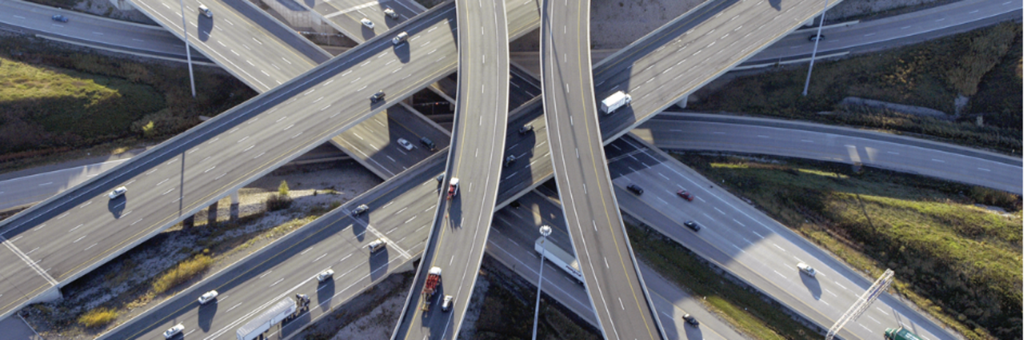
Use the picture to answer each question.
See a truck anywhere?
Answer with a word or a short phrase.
Yes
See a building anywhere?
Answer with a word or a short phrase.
No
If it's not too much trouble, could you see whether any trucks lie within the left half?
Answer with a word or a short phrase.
Yes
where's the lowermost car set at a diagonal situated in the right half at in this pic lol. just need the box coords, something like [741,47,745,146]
[680,314,700,329]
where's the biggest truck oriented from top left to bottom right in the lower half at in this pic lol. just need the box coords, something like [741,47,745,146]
[533,238,584,288]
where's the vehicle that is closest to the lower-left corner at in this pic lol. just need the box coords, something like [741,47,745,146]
[164,324,186,339]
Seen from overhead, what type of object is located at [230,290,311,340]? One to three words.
truck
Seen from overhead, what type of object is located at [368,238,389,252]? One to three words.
vehicle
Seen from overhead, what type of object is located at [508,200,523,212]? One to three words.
vehicle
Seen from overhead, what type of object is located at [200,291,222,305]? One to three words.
car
